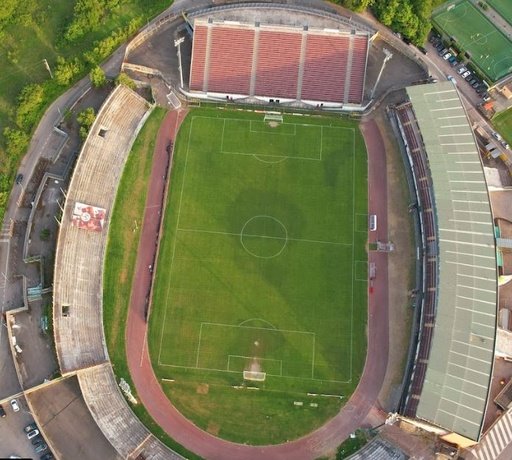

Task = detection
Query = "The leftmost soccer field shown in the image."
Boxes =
[149,102,368,446]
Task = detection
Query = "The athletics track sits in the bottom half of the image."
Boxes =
[124,106,390,460]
